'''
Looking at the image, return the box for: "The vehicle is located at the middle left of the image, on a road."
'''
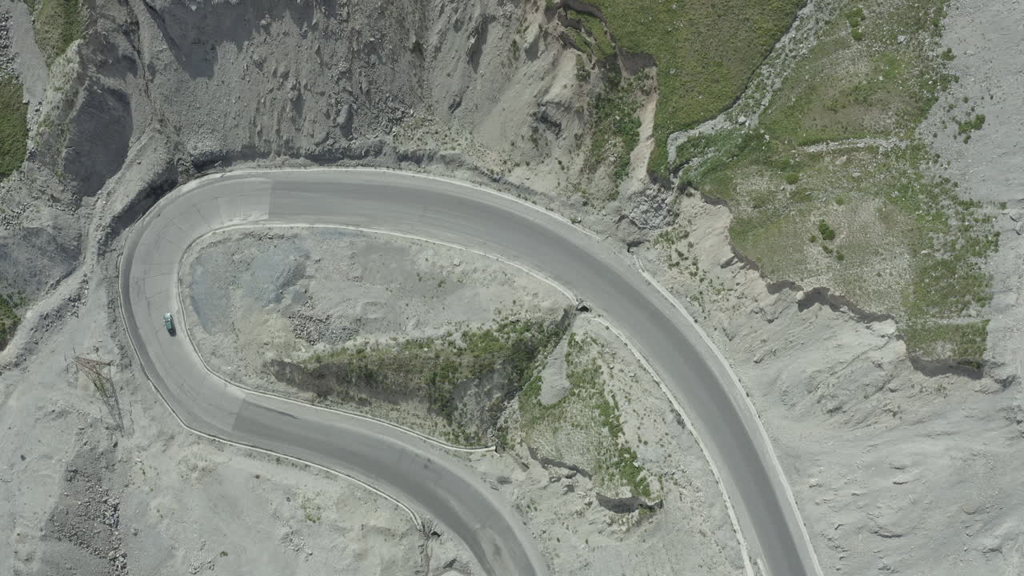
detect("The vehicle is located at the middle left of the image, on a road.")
[163,313,175,333]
